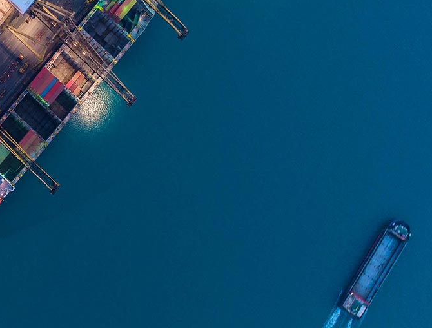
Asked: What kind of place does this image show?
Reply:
port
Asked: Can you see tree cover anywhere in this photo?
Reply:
No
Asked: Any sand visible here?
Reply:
No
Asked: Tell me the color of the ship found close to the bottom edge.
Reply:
blue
